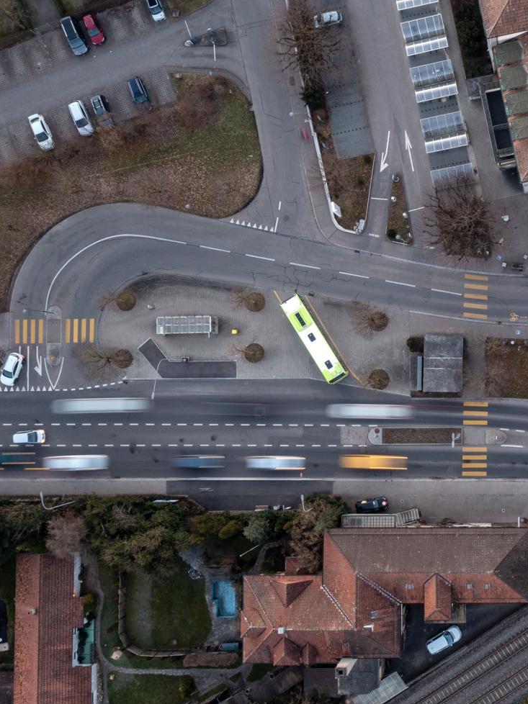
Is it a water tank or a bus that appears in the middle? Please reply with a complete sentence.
The feature located in the middle is a bus.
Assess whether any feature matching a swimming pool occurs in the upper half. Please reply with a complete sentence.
No, looking in the upper half, there is no swimming pool.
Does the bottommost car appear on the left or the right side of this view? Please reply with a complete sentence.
You can find the bottommost car on the right side of the picture.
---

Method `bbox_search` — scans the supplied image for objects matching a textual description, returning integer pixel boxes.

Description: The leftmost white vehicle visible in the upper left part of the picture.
[28,113,56,151]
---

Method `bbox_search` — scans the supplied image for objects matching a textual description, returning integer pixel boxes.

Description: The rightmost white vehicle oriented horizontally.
[349,402,394,420]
